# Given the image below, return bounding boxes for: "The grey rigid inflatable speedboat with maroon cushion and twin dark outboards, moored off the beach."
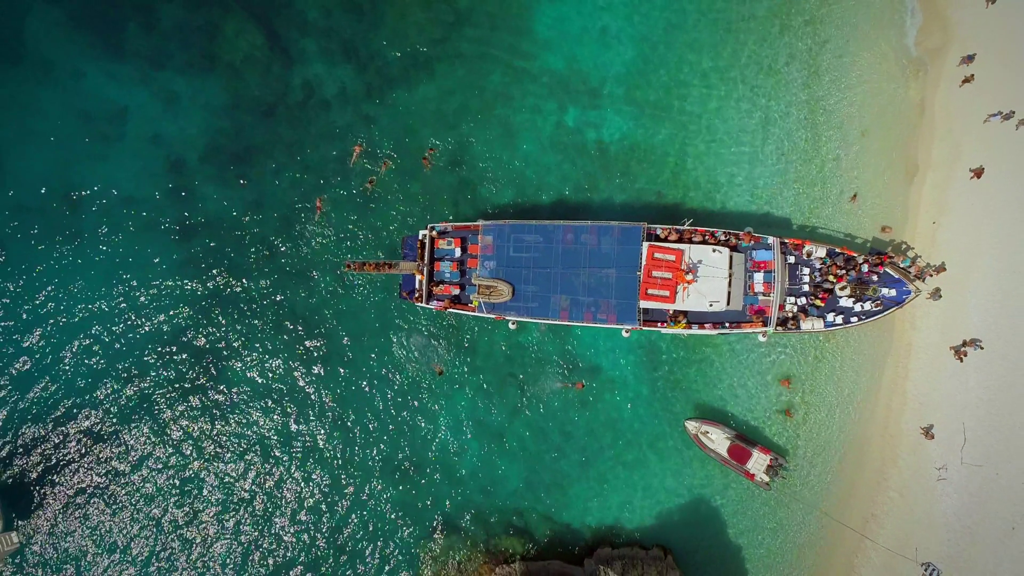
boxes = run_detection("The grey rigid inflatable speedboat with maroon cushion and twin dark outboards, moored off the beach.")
[685,421,784,490]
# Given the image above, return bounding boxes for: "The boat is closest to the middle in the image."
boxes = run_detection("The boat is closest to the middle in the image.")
[471,278,513,302]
